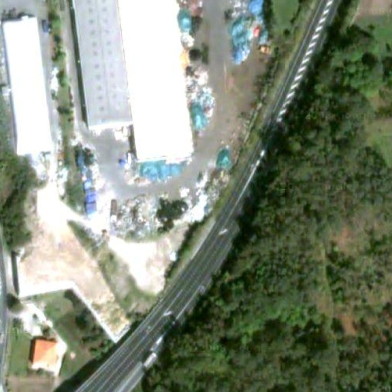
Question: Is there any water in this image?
No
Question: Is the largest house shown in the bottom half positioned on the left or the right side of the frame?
left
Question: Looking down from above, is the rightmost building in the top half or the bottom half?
top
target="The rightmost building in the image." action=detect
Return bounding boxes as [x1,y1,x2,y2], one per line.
[119,0,194,162]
